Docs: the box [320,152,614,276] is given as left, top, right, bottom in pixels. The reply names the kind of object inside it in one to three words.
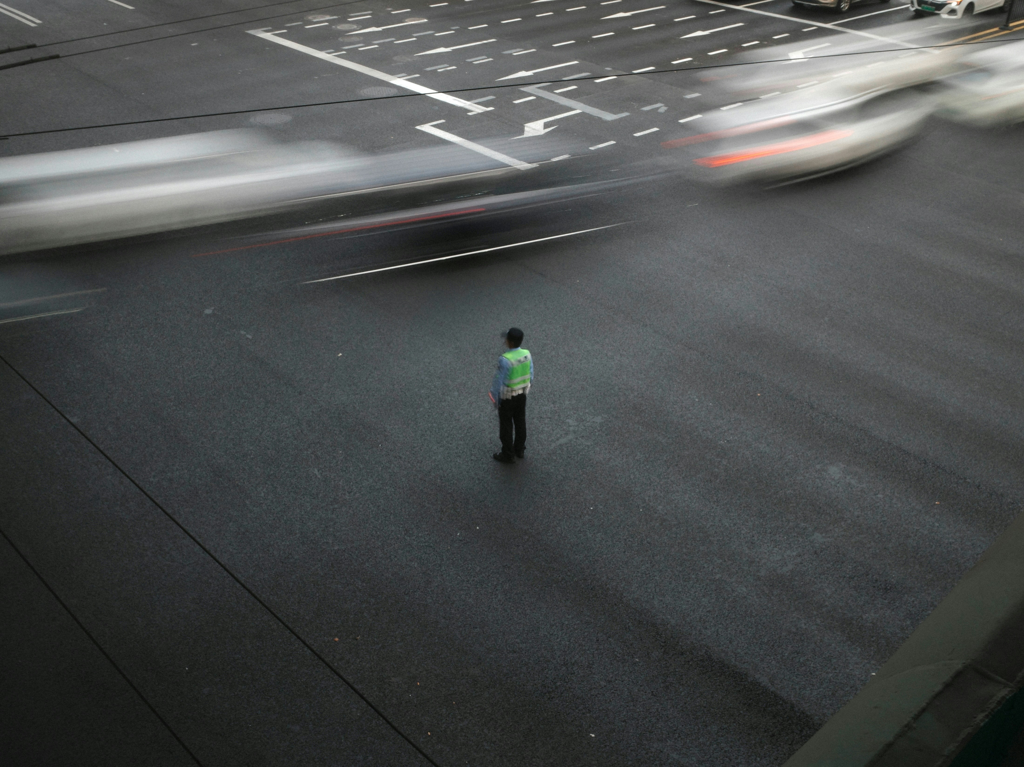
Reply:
car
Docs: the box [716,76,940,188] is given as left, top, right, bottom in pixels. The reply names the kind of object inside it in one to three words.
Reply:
car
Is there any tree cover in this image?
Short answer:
No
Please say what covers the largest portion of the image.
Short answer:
paved ground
